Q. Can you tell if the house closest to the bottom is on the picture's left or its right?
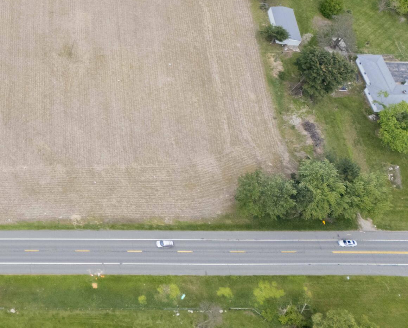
right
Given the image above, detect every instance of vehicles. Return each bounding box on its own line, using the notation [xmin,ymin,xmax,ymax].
[339,240,359,249]
[156,240,175,250]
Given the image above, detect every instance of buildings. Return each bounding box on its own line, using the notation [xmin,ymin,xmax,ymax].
[270,4,301,45]
[356,56,408,113]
